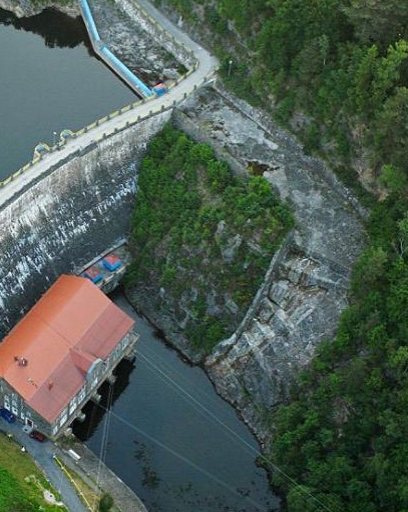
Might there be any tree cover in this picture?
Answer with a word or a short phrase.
Yes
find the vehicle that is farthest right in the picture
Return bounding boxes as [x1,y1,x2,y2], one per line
[28,426,48,443]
